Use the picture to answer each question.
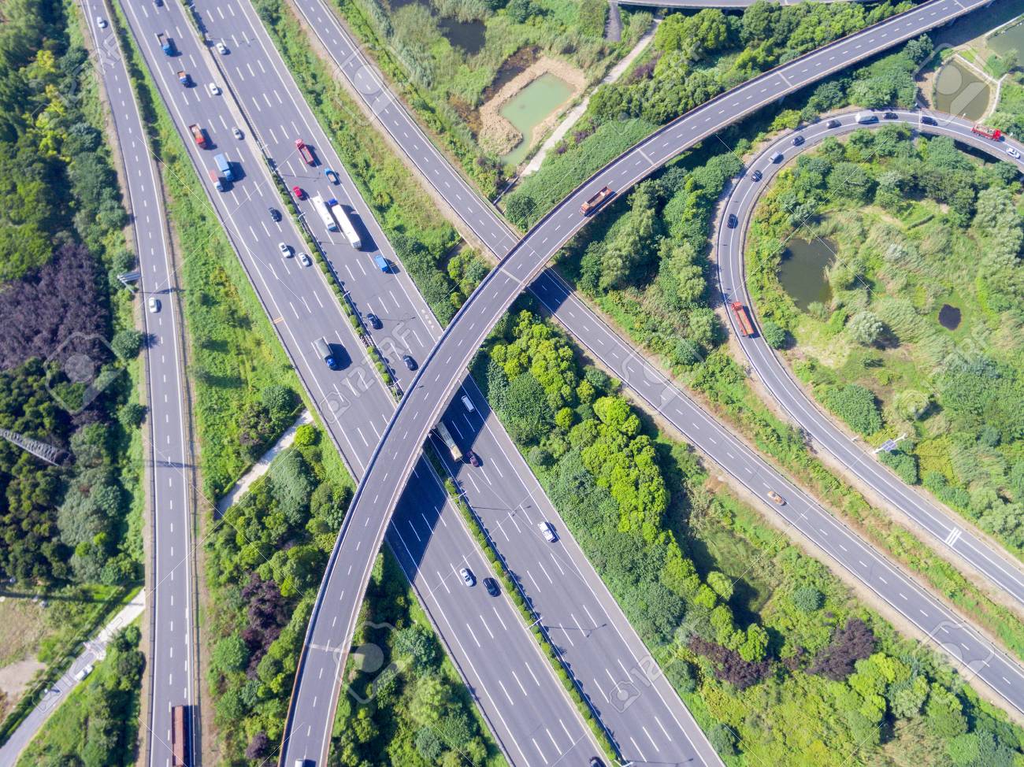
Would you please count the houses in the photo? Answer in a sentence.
The picture shows no houses.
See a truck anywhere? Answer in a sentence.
Yes, a truck appears in the view.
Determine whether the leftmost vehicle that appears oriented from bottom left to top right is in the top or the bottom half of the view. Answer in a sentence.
You can find the leftmost vehicle that appears oriented from bottom left to top right in the bottom half.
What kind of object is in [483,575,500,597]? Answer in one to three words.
car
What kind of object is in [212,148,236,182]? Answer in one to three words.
truck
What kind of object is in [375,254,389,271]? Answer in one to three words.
vehicle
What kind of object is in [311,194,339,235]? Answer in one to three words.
bus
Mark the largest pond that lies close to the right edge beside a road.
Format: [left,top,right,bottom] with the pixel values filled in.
[932,58,991,122]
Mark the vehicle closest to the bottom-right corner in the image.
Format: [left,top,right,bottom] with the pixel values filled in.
[765,489,785,507]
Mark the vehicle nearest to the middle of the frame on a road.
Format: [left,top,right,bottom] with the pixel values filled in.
[460,395,476,414]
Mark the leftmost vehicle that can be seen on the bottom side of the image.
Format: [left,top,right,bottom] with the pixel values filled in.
[70,659,96,684]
